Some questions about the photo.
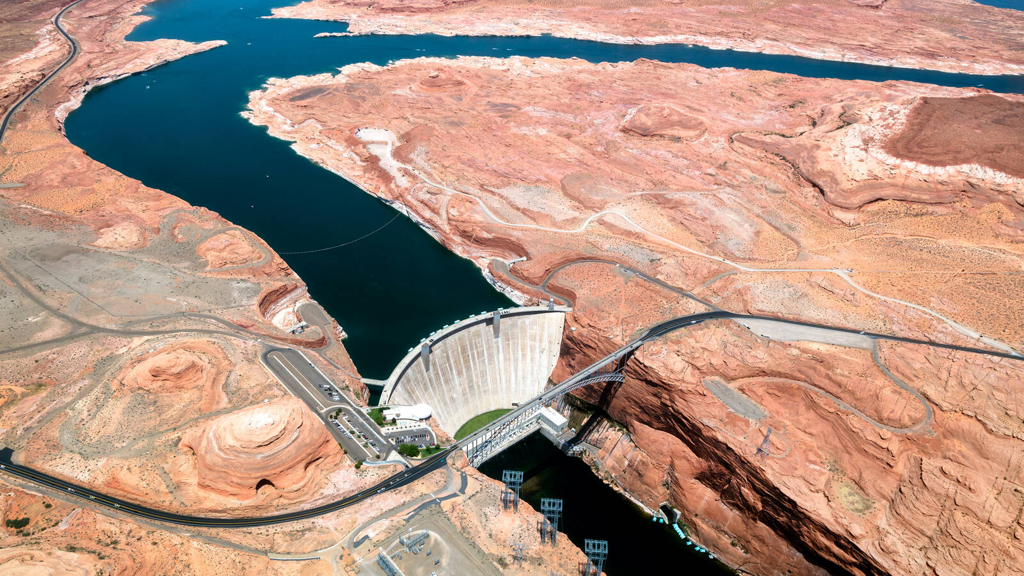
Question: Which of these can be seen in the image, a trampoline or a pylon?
pylon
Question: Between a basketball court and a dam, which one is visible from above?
dam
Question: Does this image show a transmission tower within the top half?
No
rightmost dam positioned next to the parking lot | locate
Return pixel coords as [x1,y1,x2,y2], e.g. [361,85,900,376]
[378,305,571,441]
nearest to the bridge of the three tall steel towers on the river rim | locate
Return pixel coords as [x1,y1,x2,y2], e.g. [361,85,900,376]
[500,467,524,512]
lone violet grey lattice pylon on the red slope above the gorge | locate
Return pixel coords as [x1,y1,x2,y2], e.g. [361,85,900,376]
[754,433,771,462]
